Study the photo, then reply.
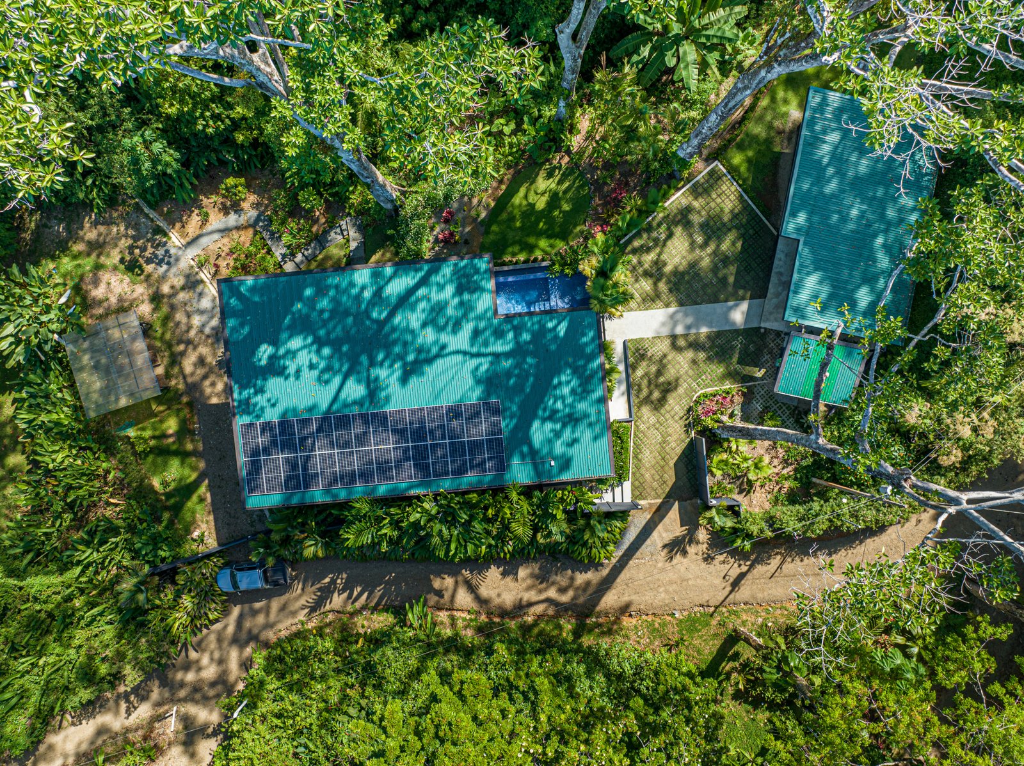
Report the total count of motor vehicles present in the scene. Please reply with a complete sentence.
In total, 1 motor vehicle can be seen.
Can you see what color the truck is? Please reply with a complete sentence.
The color of the truck is blue.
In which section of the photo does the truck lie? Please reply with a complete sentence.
The truck is in the bottom left part of the image.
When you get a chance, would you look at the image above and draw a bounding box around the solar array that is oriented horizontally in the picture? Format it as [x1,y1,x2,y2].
[239,401,506,496]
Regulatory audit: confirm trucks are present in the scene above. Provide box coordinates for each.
[214,560,296,596]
